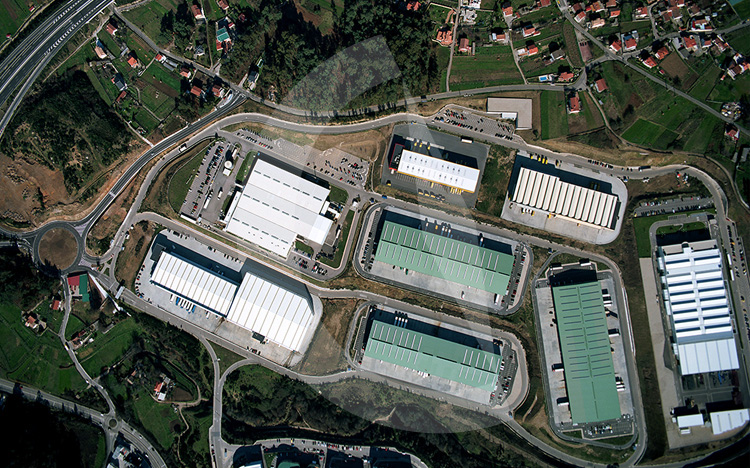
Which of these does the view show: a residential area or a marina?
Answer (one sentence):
It's a residential area.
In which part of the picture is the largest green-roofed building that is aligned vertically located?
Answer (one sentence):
The largest green-roofed building that is aligned vertically is in the bottom right part of the image.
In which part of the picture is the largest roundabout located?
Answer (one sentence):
The largest roundabout sits in the left section of the image.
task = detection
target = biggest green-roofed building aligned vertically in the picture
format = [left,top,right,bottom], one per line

[550,281,620,423]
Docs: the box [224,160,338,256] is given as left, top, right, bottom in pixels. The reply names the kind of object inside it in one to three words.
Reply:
building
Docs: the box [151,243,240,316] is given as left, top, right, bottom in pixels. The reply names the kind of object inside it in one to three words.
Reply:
building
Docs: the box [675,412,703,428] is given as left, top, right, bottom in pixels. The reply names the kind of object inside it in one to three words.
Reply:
shed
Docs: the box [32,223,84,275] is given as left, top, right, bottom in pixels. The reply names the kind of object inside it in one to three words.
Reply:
roundabout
